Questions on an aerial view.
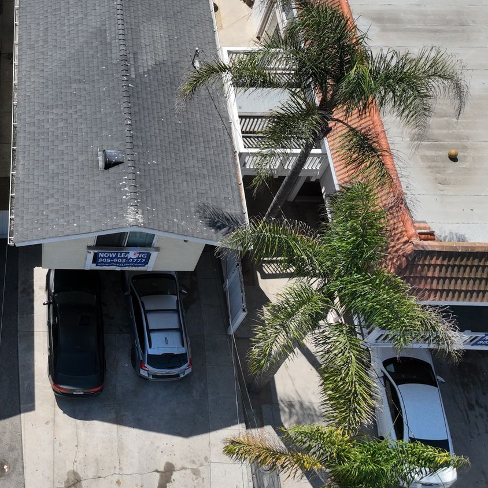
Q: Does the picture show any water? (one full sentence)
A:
No, there is no water in the image.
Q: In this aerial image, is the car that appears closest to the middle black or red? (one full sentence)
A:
The car that appears closest to the middle is black.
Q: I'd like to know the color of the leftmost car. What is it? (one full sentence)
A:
In this view, the leftmost car is black.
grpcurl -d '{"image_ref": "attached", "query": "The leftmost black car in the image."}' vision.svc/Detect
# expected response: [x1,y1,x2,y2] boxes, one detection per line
[41,268,110,399]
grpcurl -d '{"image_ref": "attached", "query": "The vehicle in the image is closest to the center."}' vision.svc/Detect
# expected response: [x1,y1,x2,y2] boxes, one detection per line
[120,270,192,383]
